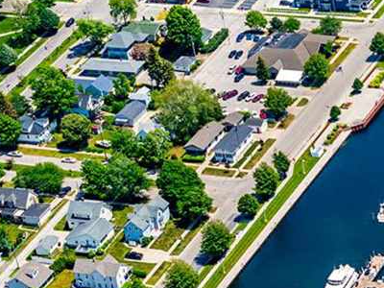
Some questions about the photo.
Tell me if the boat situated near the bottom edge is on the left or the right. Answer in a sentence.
The boat situated near the bottom edge sits on the right side.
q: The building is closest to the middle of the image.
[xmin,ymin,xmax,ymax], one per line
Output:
[186,120,227,158]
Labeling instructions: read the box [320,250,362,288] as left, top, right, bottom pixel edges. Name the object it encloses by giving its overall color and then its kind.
white boat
